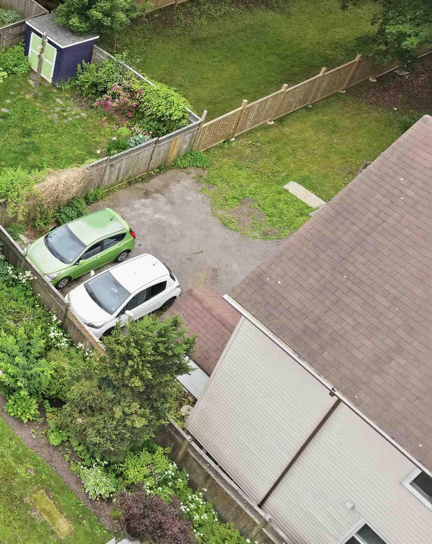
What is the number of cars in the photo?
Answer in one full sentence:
My tally gives 2 cars in this view.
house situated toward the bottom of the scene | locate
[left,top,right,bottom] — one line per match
[184,114,432,544]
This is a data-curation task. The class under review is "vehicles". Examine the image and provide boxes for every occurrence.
[26,210,138,291]
[67,250,185,338]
